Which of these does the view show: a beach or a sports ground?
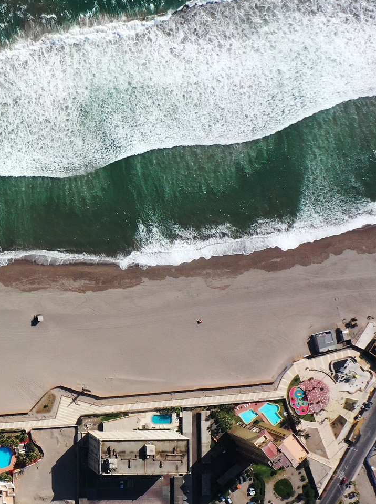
beach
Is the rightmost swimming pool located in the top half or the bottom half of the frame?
bottom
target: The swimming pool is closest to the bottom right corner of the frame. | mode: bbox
[258,402,281,426]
